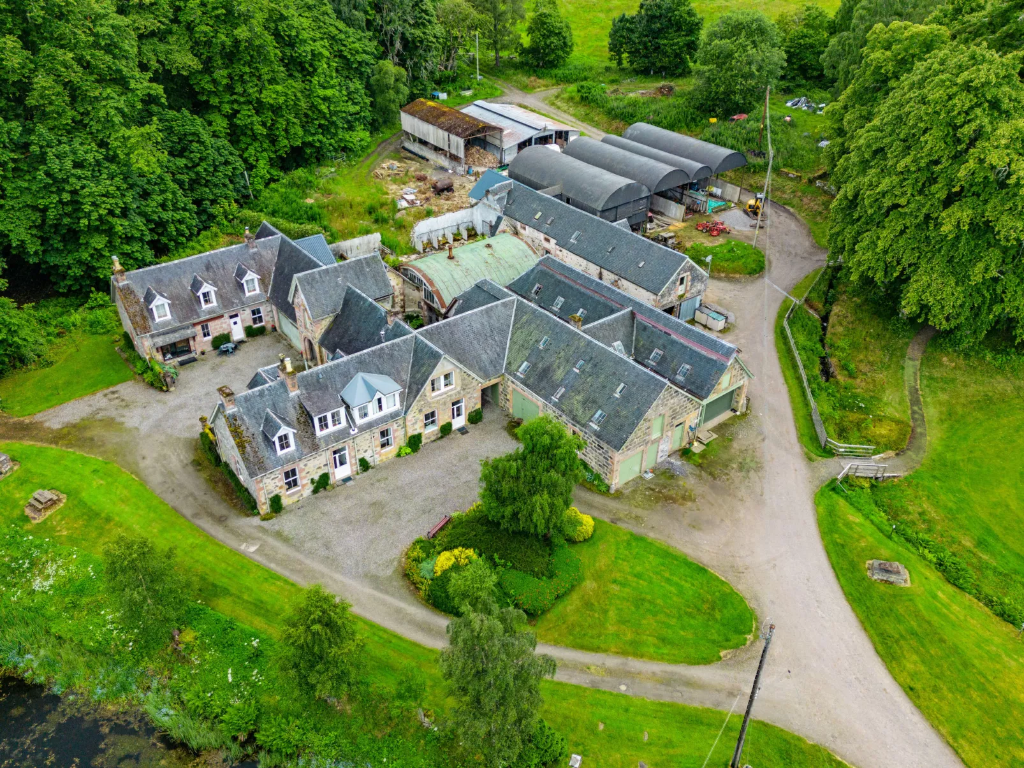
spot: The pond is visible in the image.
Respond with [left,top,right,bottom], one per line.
[0,671,269,768]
